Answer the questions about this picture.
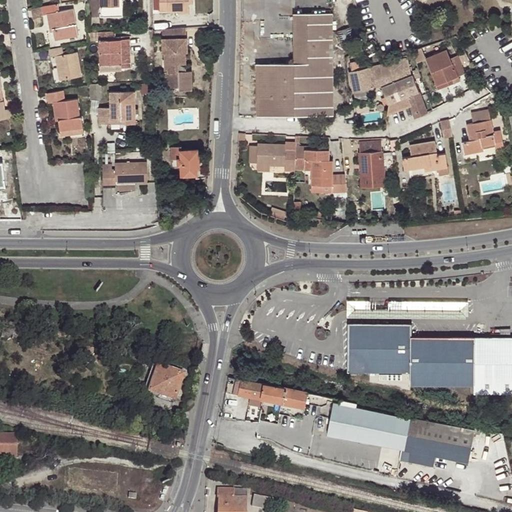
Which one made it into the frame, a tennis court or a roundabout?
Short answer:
roundabout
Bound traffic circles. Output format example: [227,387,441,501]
[172,210,265,303]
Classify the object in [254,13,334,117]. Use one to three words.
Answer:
building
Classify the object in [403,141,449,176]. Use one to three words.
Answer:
house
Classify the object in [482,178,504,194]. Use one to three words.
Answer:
swimming pool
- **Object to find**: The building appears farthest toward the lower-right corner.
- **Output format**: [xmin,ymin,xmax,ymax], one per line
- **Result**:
[401,422,474,468]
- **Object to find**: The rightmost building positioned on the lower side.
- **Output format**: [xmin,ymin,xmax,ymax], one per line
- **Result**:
[474,338,512,394]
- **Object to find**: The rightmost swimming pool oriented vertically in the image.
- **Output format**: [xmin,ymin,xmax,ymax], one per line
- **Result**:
[442,181,456,206]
